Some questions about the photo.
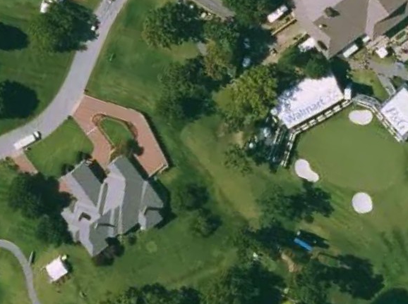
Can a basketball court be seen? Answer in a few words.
No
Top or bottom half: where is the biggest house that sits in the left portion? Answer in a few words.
bottom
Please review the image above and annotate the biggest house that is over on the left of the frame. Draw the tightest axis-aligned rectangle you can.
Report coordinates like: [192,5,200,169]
[60,158,165,256]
